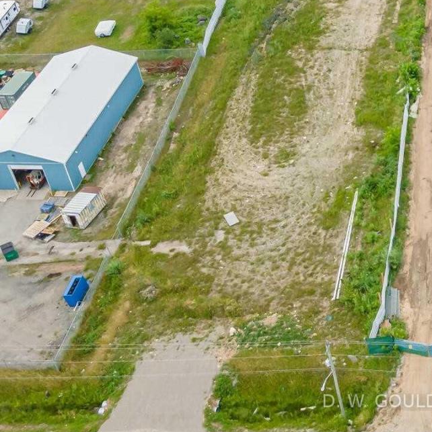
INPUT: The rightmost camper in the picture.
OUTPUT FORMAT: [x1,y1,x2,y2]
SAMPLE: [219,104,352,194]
[90,21,116,40]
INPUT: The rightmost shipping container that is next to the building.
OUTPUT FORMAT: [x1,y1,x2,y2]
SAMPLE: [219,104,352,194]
[58,174,112,229]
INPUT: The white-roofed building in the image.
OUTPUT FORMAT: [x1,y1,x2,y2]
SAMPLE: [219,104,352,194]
[0,43,140,192]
